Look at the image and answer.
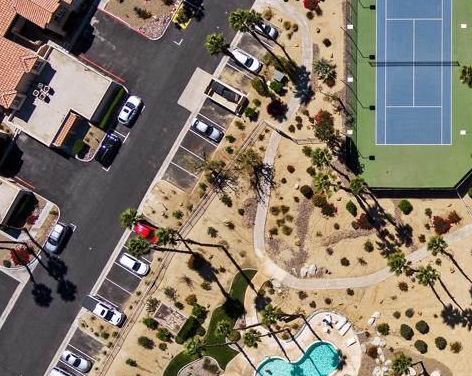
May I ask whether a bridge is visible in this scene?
No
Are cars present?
Yes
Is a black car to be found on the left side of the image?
Yes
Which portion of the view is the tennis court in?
top right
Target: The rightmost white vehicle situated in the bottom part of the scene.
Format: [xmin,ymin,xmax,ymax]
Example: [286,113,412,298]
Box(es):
[118,252,150,277]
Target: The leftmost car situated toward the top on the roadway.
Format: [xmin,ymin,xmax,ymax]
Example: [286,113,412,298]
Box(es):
[96,132,122,166]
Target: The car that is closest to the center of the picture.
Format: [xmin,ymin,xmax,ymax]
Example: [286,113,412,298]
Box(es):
[191,118,225,144]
